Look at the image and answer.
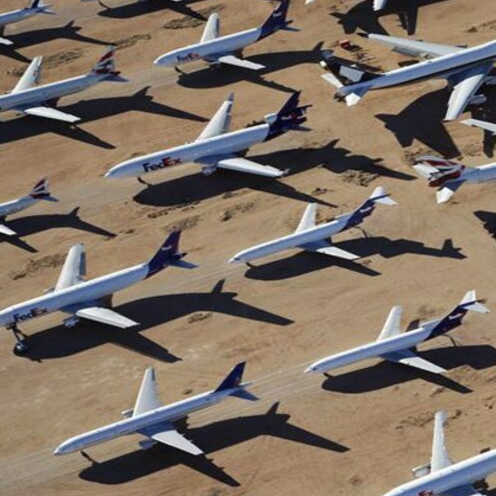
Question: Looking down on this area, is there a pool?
No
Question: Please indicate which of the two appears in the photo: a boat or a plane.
plane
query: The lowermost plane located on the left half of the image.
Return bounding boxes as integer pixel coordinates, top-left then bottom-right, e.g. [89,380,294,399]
[56,361,261,456]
